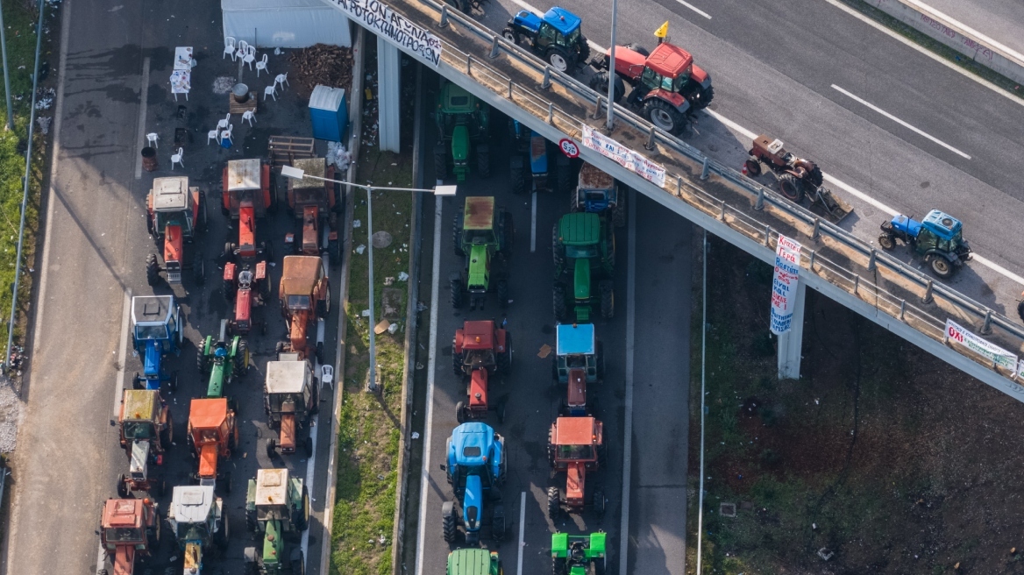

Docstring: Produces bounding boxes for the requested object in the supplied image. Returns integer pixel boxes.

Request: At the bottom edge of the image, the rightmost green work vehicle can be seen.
[549,535,609,575]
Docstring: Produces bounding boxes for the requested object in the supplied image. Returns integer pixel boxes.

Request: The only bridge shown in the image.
[365,0,1024,403]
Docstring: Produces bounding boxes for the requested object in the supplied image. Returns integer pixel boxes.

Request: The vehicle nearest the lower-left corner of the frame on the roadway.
[92,498,159,575]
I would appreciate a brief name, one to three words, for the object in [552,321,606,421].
work vehicle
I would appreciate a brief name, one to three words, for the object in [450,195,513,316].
work vehicle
